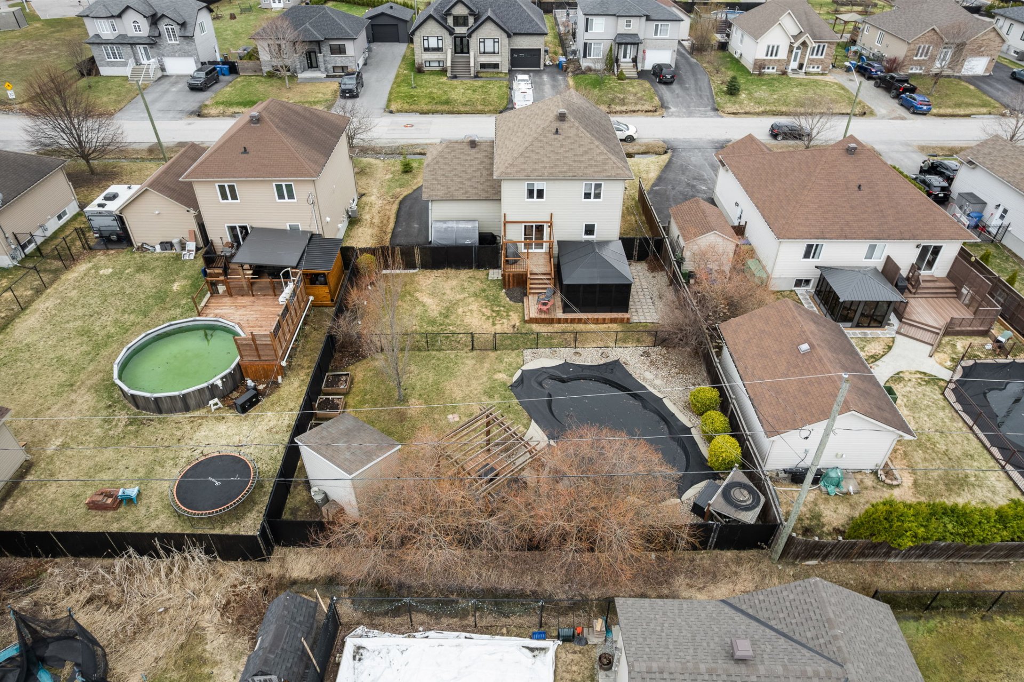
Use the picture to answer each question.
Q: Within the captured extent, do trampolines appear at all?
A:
Yes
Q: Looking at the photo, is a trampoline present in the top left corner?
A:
No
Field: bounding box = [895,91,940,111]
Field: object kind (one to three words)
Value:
car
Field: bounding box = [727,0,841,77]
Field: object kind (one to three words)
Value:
house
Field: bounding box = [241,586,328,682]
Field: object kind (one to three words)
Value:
shed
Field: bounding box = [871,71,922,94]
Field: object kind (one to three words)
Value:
truck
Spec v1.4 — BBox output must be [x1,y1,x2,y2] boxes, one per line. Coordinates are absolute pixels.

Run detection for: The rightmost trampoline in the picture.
[171,453,263,528]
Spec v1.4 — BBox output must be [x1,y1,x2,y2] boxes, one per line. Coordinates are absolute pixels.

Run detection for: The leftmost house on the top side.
[0,147,75,266]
